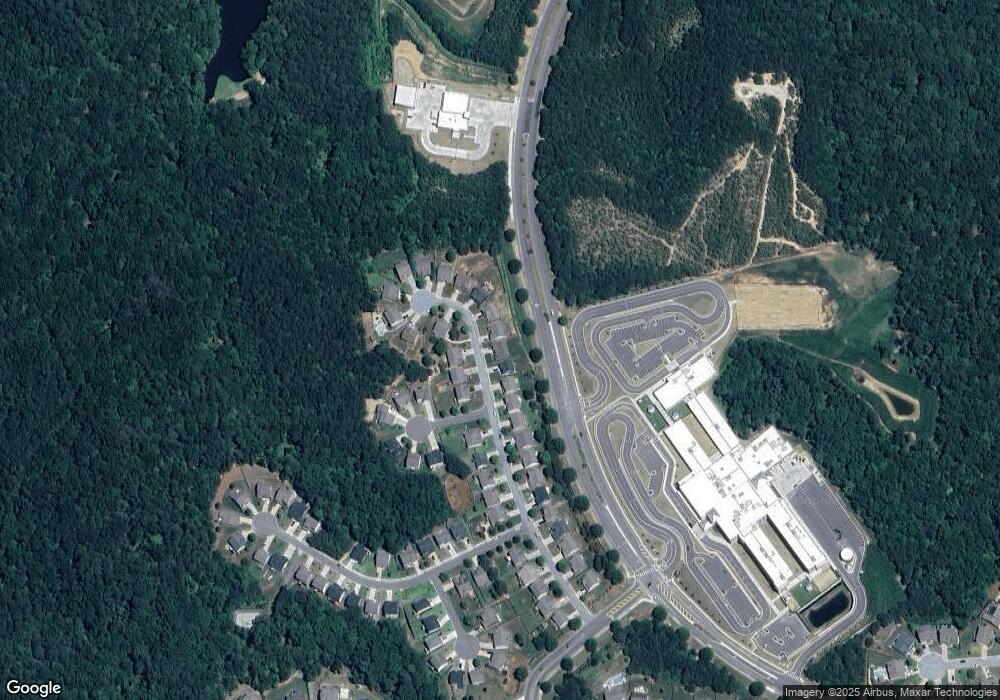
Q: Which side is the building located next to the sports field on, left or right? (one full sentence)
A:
It is on the right.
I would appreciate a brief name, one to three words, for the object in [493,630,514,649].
house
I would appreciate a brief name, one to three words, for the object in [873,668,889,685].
swimming pool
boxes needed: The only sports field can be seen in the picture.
[735,283,823,330]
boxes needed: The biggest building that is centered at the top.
[438,91,470,141]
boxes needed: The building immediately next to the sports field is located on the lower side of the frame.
[650,356,829,598]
